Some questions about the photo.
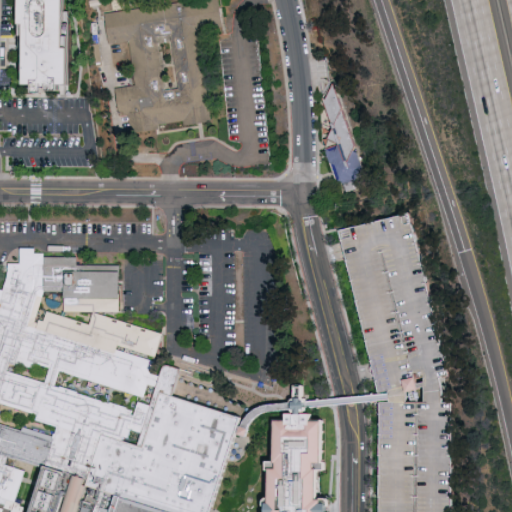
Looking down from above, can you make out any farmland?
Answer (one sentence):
No, there is no farmland in the image.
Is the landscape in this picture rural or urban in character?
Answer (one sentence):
It looks urban.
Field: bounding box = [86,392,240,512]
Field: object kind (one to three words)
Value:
building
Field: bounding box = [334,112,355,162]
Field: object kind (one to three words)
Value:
building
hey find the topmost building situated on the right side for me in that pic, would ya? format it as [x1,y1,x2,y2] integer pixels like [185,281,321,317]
[324,84,342,127]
